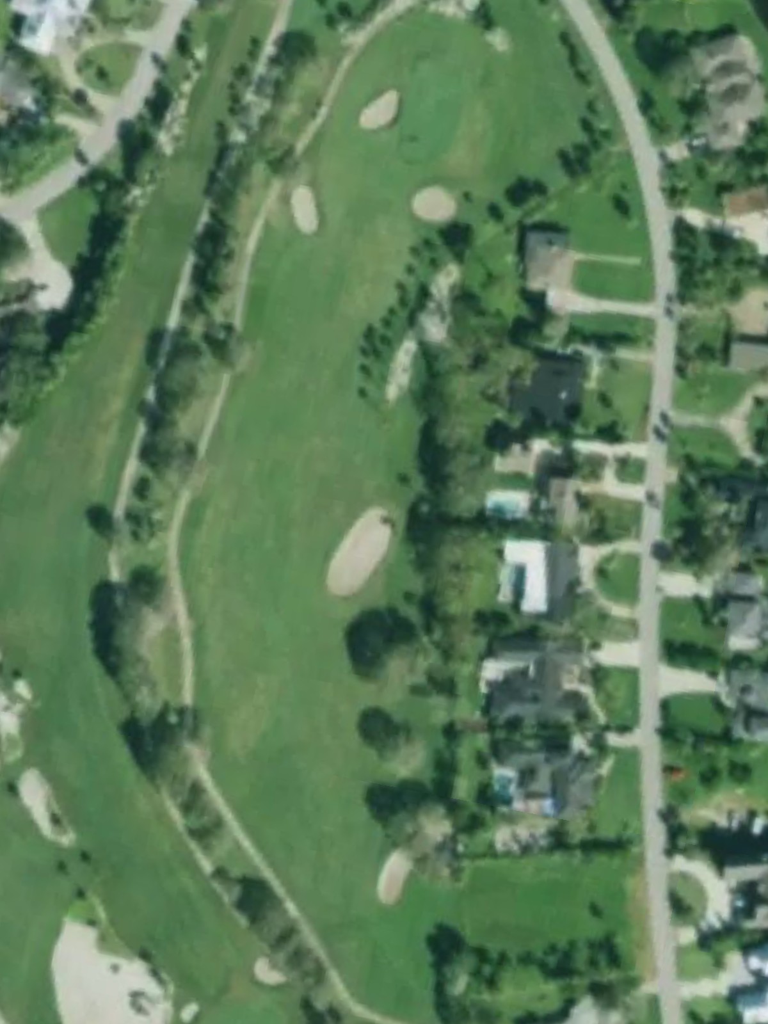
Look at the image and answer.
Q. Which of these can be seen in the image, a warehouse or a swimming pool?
swimming pool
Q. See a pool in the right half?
Yes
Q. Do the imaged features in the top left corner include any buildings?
Yes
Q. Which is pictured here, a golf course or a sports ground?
golf course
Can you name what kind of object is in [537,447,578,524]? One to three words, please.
house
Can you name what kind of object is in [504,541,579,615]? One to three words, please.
house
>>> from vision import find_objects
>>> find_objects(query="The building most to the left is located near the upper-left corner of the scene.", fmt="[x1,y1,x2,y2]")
[0,59,34,119]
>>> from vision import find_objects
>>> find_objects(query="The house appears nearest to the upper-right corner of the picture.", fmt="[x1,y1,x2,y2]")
[700,34,767,150]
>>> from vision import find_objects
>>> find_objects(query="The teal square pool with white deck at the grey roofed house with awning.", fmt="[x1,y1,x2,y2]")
[494,769,516,808]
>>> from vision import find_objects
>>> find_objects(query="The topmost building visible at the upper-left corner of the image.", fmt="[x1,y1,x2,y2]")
[11,0,92,53]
